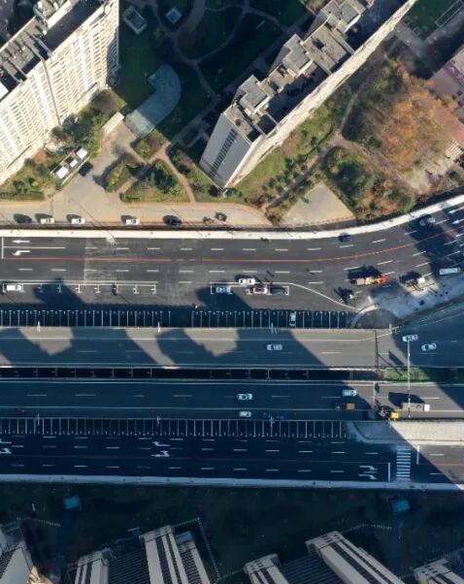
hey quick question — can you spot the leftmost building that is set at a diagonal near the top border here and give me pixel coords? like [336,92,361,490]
[0,0,149,177]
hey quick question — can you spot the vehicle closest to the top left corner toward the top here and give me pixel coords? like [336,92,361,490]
[79,162,92,177]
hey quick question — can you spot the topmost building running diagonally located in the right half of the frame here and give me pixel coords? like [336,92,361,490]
[202,0,428,189]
